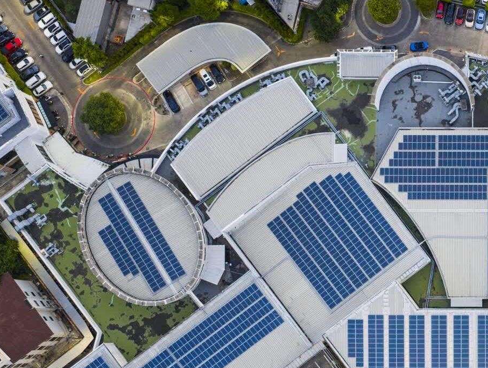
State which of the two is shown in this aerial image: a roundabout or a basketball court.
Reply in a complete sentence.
The one in the frame is a roundabout.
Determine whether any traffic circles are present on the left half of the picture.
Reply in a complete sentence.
Yes, a traffic circle appears on the left half of the picture.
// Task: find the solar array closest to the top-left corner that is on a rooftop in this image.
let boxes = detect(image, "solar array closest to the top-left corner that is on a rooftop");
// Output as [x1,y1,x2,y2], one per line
[0,98,14,123]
